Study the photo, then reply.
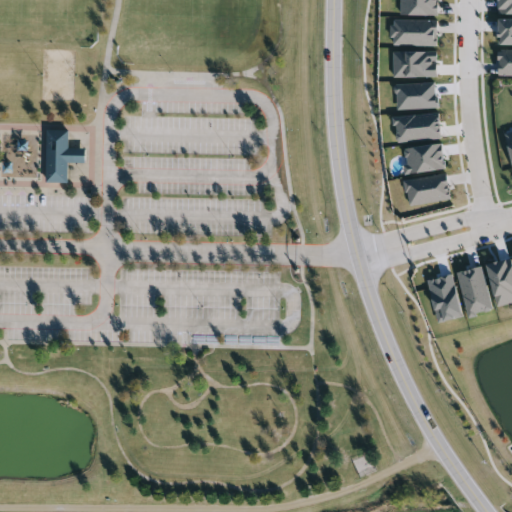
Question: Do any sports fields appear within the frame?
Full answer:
Yes, there's a sports field here.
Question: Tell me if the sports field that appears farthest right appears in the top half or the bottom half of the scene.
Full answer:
Seen from above, the sports field that appears farthest right lies in the top half of the view.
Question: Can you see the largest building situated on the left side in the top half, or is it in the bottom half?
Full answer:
It is in the top half that the largest building situated on the left side appears.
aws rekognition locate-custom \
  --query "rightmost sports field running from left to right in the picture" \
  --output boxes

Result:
[124,0,262,56]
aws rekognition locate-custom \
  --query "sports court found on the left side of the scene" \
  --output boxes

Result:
[42,50,74,101]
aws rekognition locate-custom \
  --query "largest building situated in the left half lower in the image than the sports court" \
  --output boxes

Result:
[46,128,84,182]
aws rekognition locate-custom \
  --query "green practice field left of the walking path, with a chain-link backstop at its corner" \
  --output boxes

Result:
[0,0,94,46]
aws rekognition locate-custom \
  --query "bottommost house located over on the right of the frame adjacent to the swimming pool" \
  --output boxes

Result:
[406,172,450,206]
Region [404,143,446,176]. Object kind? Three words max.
house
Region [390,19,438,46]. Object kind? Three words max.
house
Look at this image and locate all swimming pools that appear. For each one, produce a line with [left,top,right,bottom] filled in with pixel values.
[388,156,405,178]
